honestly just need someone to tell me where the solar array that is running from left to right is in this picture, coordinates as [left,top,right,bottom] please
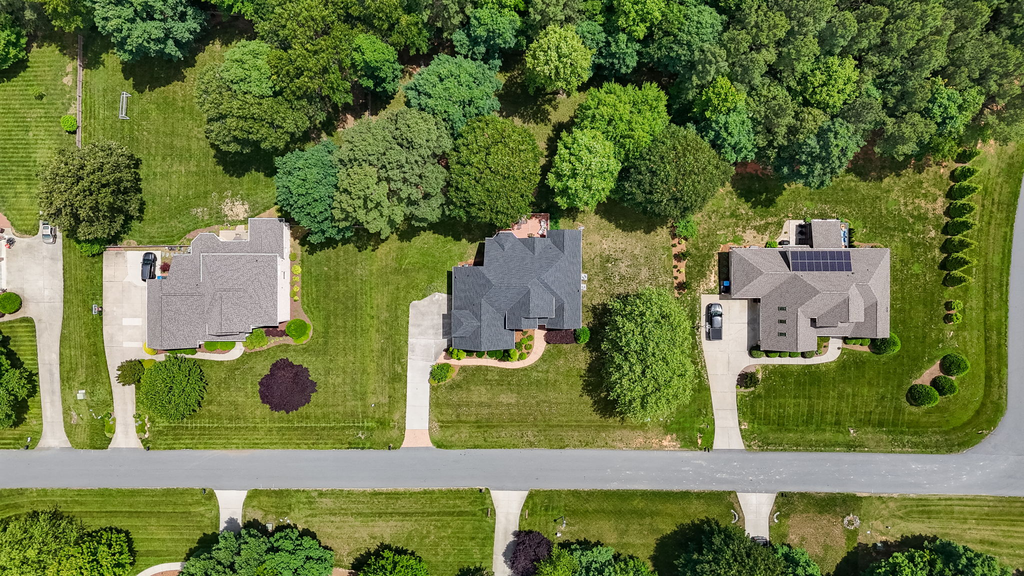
[791,249,853,270]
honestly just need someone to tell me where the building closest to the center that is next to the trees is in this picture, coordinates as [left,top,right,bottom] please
[450,228,582,352]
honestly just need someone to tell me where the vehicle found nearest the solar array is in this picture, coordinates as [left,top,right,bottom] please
[710,303,725,341]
